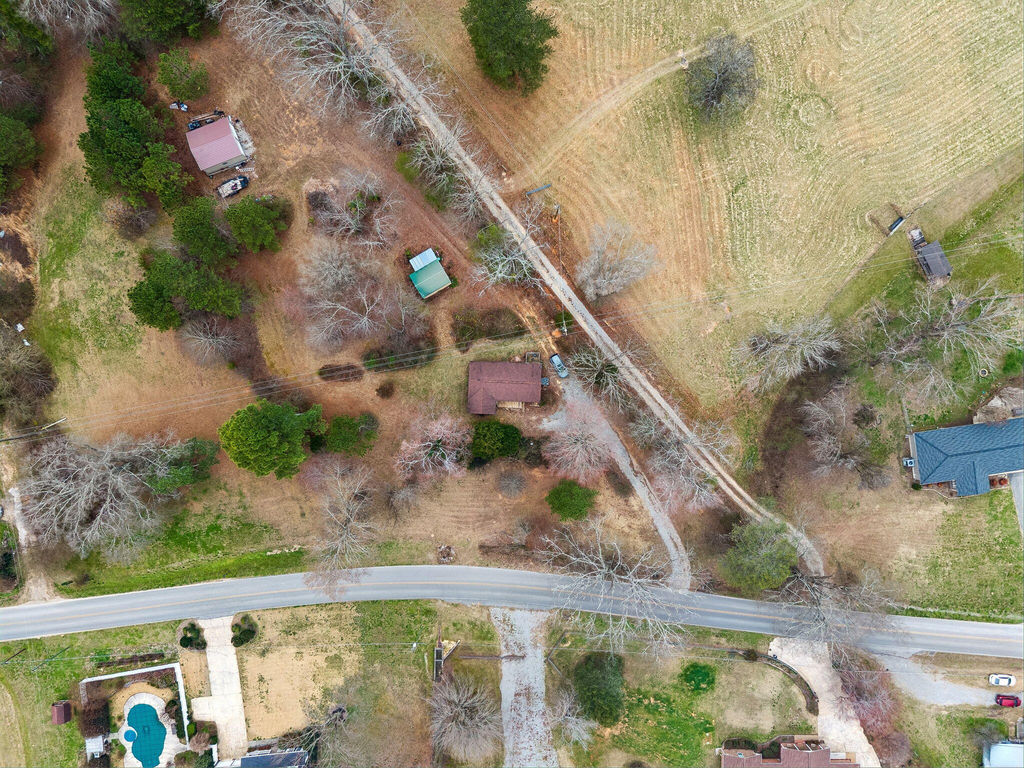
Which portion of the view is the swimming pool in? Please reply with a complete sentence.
The swimming pool is located in the bottom left region of the scene.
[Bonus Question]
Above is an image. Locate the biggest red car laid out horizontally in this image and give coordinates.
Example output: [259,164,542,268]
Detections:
[995,694,1022,708]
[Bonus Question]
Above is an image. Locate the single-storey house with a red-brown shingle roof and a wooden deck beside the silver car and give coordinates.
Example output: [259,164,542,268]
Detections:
[468,361,542,416]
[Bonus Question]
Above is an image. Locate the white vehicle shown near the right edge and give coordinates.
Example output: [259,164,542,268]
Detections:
[988,674,1016,687]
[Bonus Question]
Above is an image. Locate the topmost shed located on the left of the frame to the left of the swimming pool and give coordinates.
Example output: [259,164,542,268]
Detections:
[46,706,72,730]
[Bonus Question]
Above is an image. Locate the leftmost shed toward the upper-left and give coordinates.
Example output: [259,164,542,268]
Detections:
[186,117,247,175]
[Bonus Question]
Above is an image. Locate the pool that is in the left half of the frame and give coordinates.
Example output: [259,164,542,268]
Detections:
[119,692,188,768]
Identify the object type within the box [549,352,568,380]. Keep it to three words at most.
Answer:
car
